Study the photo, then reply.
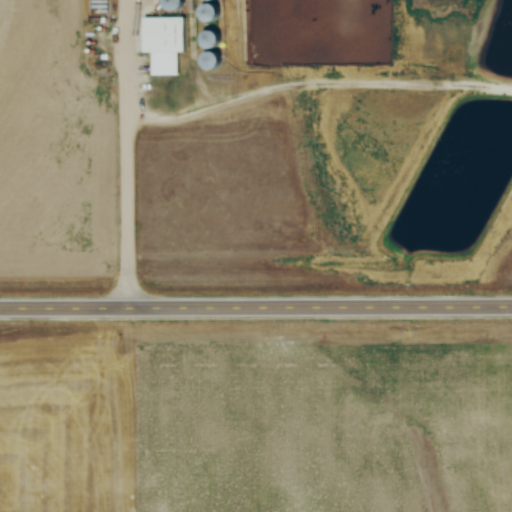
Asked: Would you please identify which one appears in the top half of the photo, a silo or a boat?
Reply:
silo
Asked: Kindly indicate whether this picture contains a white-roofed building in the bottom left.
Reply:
No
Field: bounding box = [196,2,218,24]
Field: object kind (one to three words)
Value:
silo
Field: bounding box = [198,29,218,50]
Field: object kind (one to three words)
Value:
silo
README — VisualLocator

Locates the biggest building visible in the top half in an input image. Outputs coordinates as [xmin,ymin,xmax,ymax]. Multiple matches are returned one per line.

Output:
[141,16,185,76]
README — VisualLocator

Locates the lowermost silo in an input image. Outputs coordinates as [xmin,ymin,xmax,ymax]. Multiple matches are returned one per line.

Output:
[198,50,219,72]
